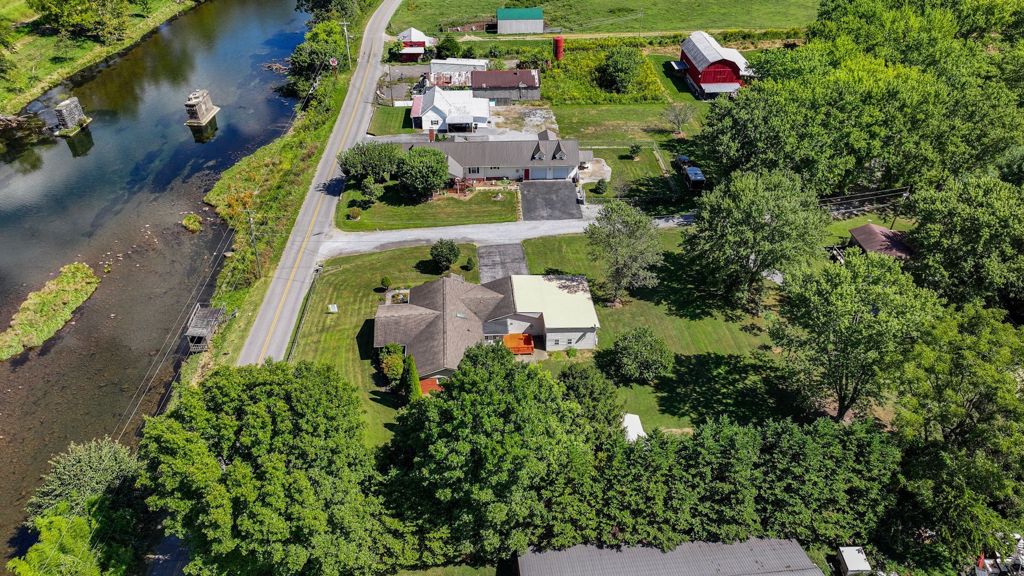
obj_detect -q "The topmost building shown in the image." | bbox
[496,7,545,34]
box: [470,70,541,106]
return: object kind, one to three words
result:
shed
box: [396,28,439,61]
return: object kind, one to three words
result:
barn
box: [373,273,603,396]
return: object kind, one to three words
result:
house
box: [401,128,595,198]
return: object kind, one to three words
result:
house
